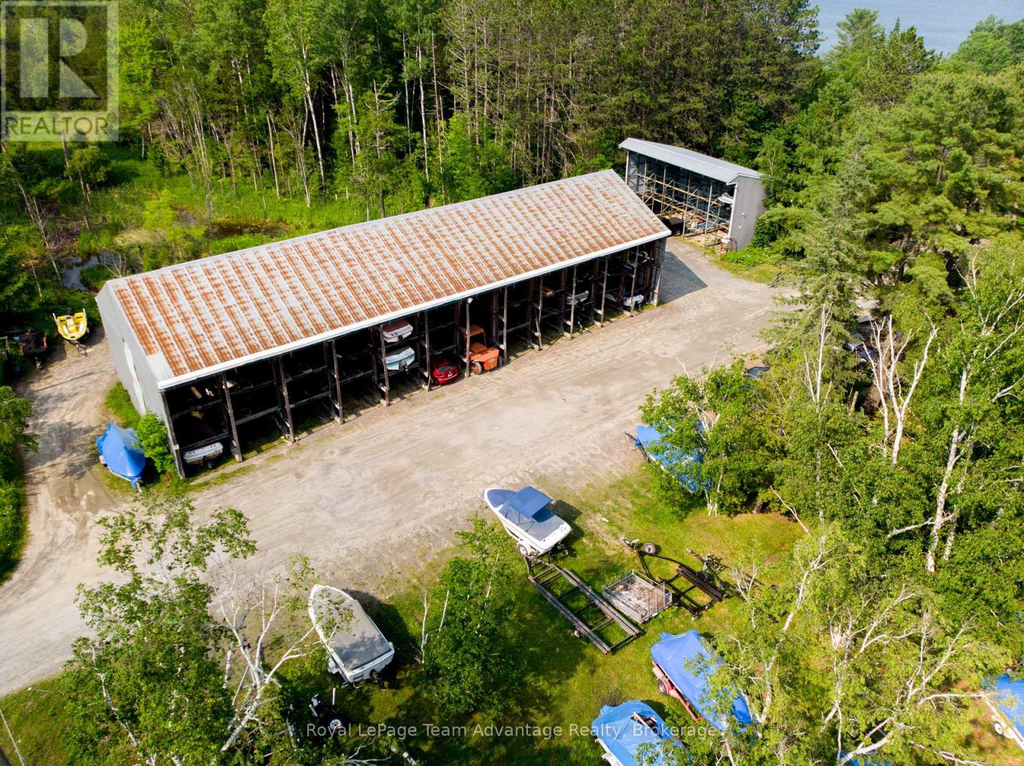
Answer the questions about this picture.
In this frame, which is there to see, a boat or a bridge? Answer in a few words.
boat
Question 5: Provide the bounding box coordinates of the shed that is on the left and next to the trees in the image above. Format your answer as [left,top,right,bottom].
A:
[92,168,672,482]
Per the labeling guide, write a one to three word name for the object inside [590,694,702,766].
boat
